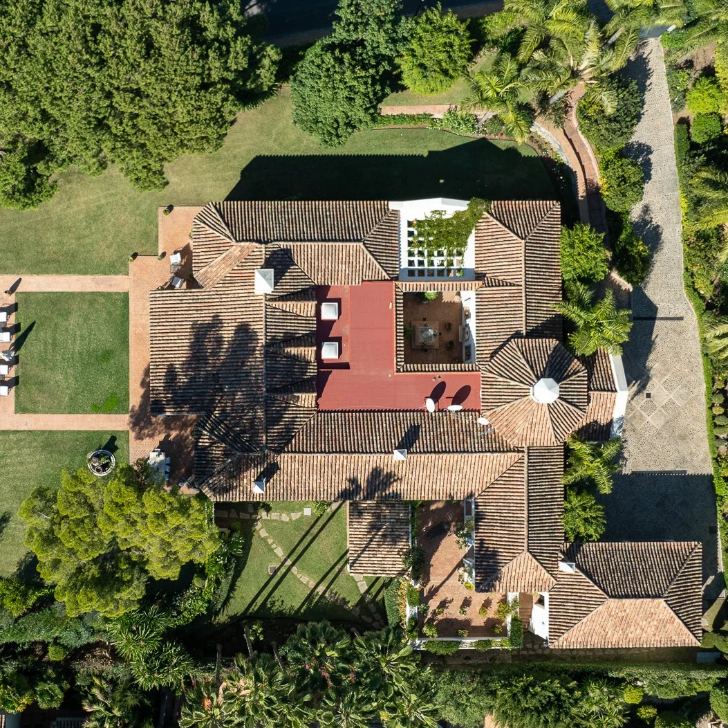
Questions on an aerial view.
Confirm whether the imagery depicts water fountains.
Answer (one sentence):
Yes, a water fountain is visible in the scene.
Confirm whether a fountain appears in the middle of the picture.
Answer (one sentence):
Yes, I can see a fountain in the middle of the picture.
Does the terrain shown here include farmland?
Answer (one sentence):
No, there's no farmland in this view.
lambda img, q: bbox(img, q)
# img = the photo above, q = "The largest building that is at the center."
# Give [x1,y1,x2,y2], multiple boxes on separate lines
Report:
[149,198,706,650]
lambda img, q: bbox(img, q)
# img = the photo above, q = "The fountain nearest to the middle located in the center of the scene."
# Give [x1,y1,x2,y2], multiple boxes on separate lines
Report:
[412,321,439,348]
